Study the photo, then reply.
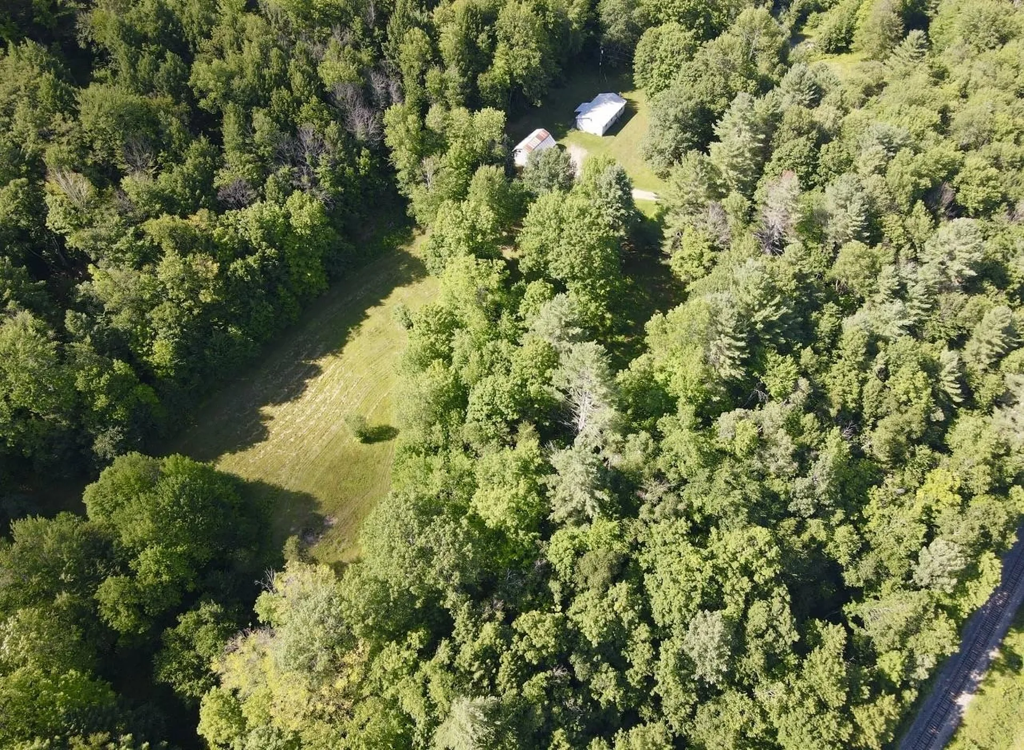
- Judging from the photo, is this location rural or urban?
rural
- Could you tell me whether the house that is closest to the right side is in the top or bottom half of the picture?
top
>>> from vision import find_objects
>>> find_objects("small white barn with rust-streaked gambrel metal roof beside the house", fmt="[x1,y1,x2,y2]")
[513,127,556,167]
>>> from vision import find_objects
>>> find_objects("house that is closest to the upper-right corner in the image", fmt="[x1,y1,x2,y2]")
[575,90,626,136]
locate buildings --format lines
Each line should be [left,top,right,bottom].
[575,90,626,136]
[513,127,556,167]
